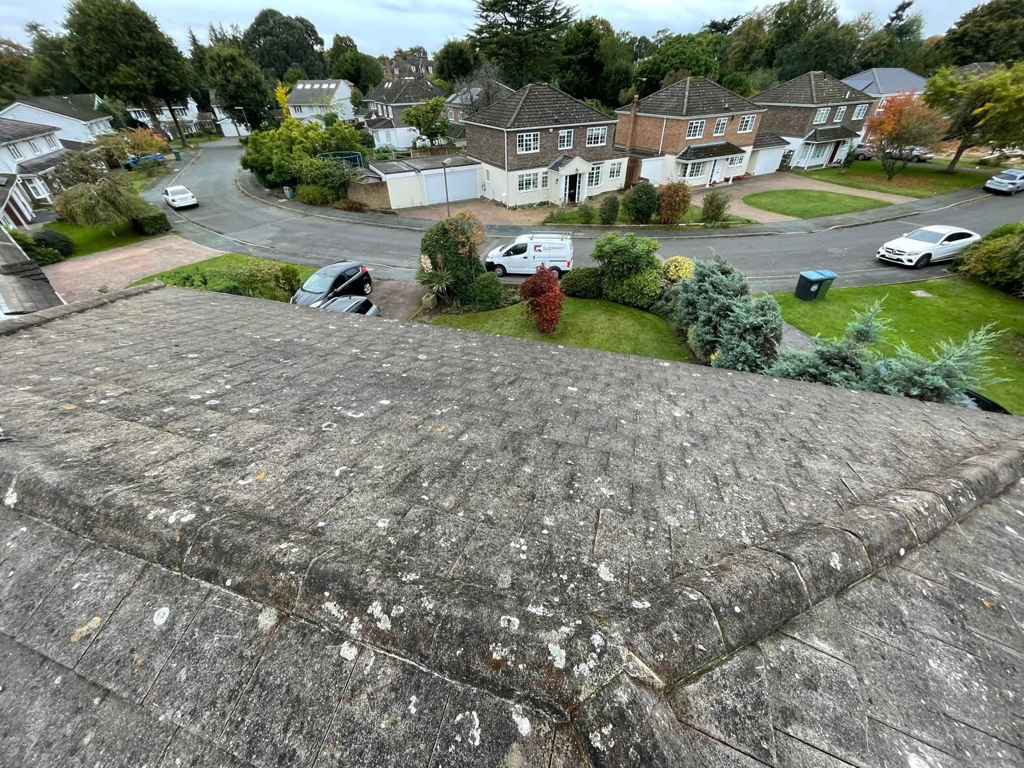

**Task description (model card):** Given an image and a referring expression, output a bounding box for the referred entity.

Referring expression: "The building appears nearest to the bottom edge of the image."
[0,280,1024,768]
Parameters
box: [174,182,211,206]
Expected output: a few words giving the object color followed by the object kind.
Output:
white car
